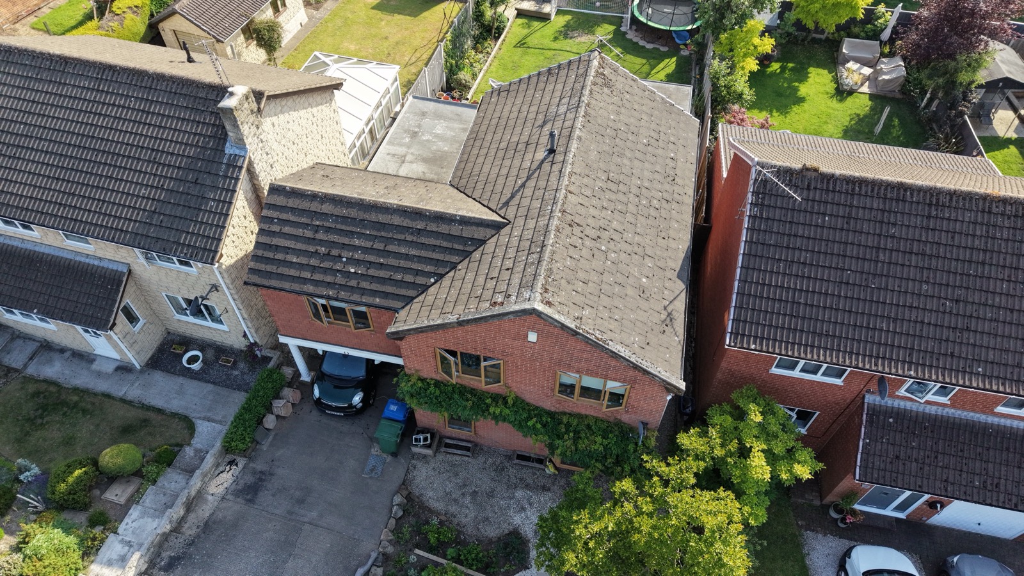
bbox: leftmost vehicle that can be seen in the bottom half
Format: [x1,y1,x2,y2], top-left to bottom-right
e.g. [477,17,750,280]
[318,348,388,417]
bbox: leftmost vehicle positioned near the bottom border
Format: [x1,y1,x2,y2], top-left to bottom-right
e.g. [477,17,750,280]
[834,537,915,576]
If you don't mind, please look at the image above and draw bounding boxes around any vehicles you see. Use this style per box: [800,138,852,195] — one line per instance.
[939,558,1012,576]
[834,537,915,576]
[318,348,388,417]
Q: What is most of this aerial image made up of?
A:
buildings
